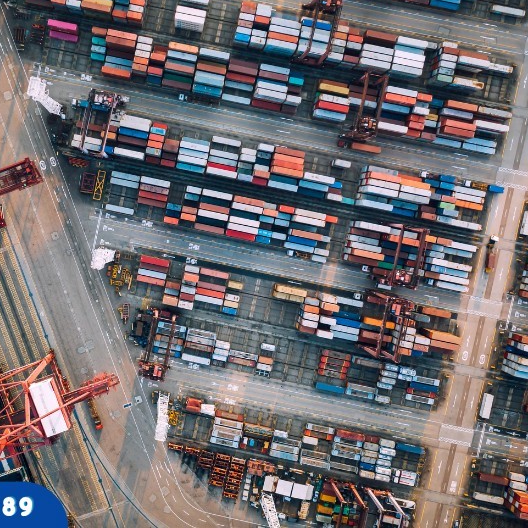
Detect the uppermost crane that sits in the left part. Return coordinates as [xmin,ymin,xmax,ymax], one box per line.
[78,84,127,162]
